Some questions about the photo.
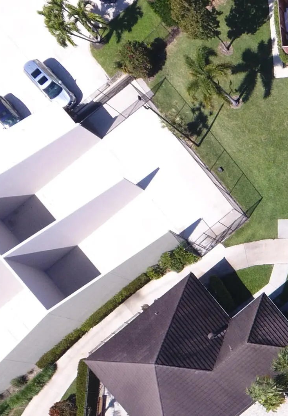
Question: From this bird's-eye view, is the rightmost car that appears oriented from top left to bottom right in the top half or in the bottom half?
top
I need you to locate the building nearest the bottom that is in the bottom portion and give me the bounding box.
[84,272,288,416]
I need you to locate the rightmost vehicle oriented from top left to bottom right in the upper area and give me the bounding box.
[20,52,70,105]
